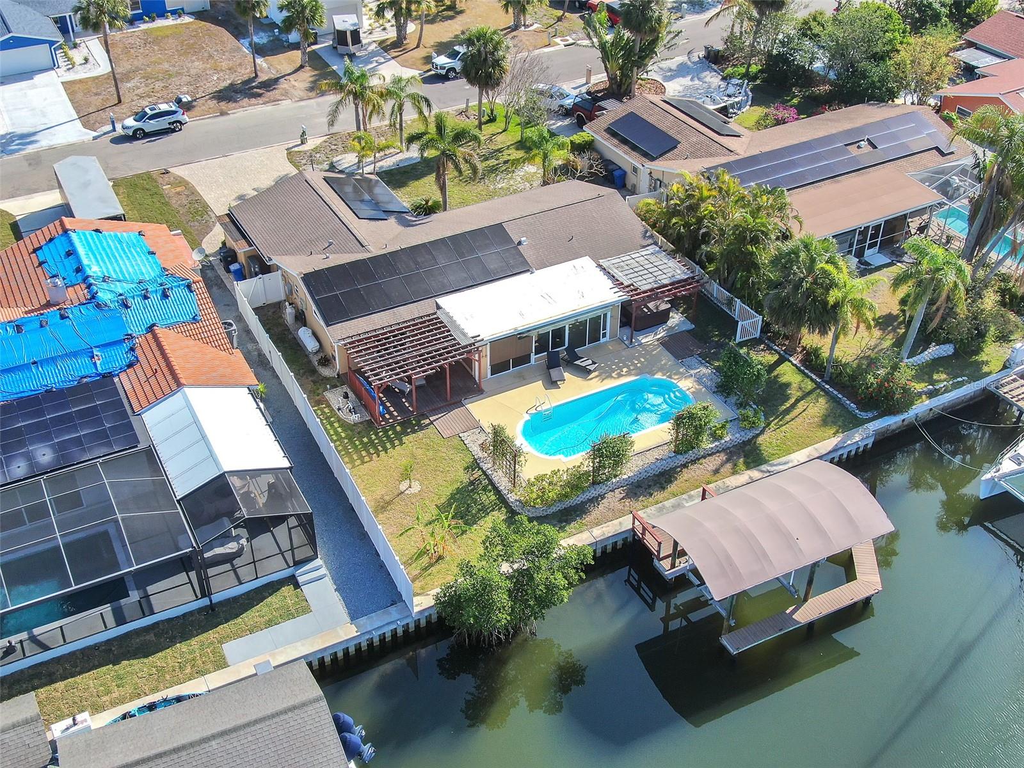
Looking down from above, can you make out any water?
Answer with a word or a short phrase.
Yes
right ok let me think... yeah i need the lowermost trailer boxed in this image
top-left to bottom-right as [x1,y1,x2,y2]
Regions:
[53,157,127,220]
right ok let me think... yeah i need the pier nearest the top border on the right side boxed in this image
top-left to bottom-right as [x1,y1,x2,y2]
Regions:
[987,370,1024,427]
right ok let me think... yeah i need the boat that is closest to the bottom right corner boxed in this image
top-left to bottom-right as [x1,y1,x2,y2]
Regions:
[980,433,1024,494]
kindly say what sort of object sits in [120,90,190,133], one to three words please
car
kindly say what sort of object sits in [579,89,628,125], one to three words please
truck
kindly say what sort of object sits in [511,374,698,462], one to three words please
swimming pool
